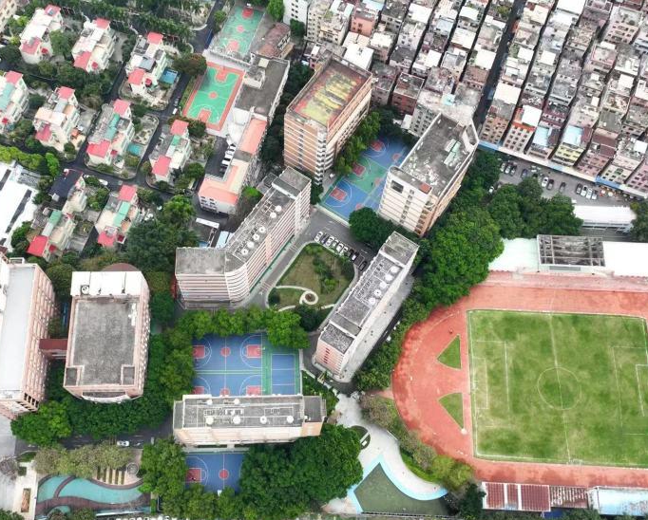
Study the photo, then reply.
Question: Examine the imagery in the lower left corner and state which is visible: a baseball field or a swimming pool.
swimming pool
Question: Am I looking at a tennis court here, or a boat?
tennis court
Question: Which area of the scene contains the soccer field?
bottom right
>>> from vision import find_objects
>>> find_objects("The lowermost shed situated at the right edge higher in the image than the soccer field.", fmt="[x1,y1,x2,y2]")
[573,205,635,233]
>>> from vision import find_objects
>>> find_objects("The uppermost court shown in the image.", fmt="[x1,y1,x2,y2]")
[209,4,262,57]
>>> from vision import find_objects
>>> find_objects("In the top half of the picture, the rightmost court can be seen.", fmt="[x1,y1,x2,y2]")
[314,121,418,228]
